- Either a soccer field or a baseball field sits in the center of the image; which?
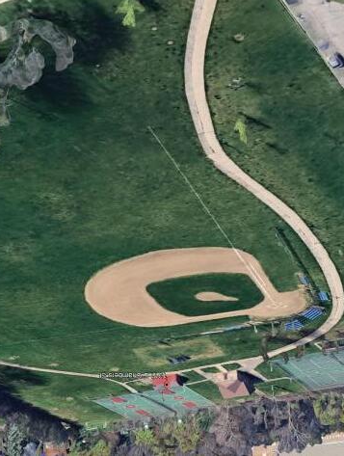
baseball field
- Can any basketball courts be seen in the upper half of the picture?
No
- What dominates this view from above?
grass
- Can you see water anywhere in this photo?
No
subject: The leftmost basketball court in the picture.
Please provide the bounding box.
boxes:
[96,394,177,423]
